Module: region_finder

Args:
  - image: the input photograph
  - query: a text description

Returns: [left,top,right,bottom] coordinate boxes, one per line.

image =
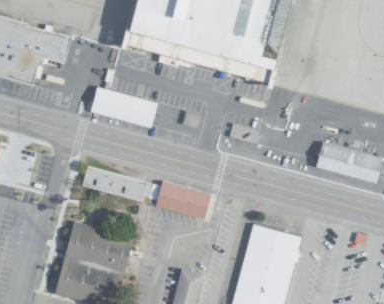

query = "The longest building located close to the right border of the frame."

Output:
[316,142,383,183]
